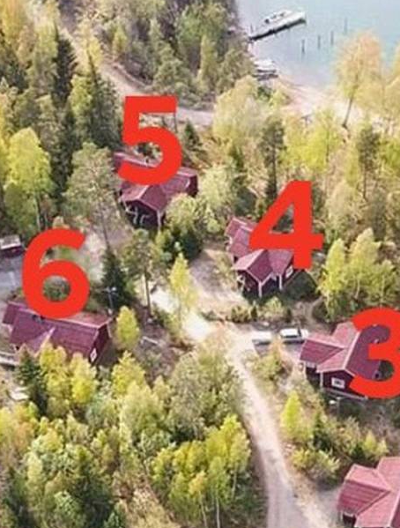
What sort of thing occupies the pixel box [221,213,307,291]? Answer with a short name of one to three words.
house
